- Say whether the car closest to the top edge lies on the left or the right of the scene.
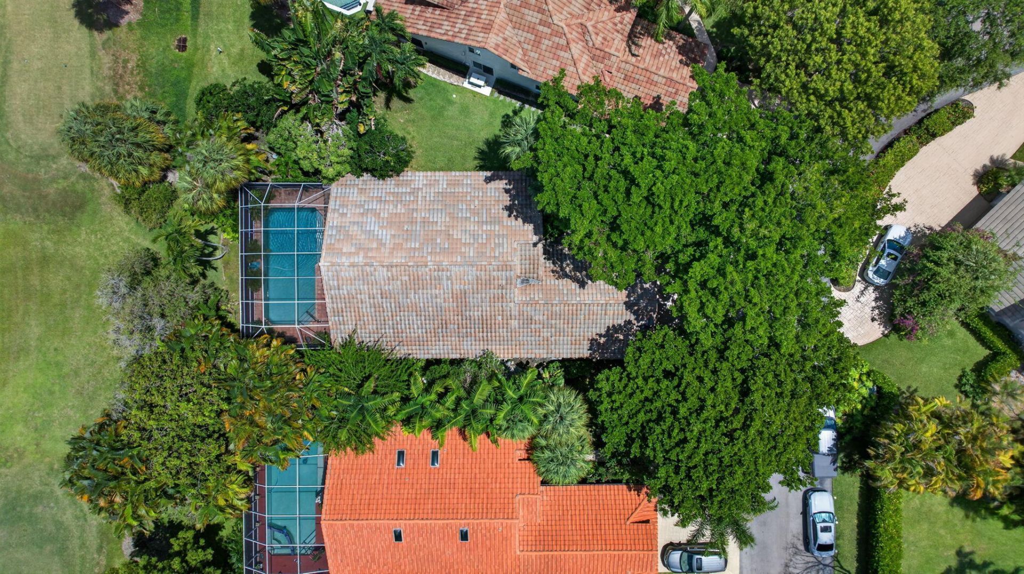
right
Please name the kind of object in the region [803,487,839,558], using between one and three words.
car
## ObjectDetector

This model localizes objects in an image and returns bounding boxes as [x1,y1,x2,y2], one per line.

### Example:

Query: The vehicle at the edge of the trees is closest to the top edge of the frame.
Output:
[861,222,912,290]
